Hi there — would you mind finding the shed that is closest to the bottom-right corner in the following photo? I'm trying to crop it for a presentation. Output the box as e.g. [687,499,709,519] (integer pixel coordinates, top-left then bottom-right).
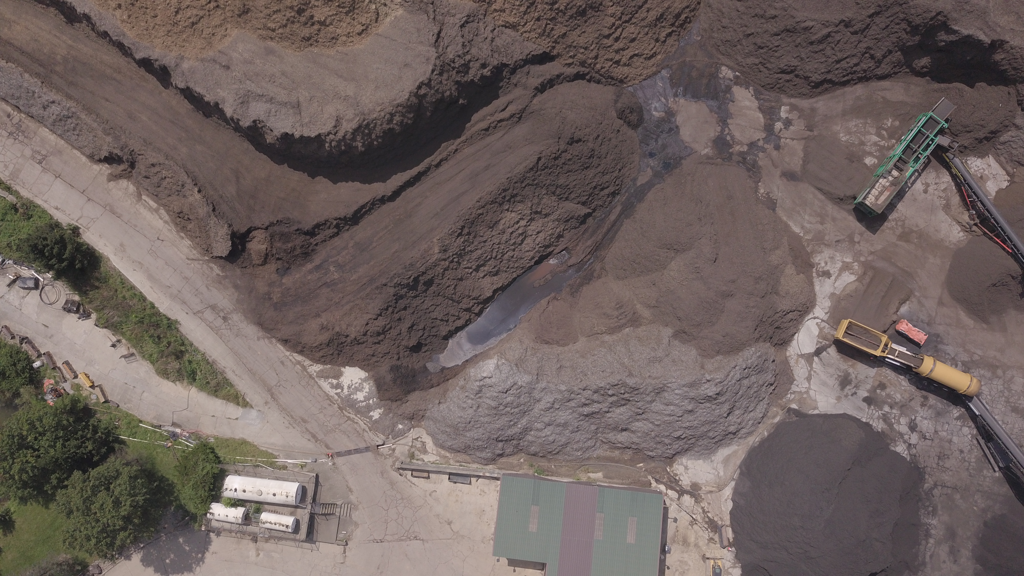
[492,456,674,576]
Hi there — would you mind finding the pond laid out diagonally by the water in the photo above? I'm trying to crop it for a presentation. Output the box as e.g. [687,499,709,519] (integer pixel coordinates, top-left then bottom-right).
[424,248,602,374]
